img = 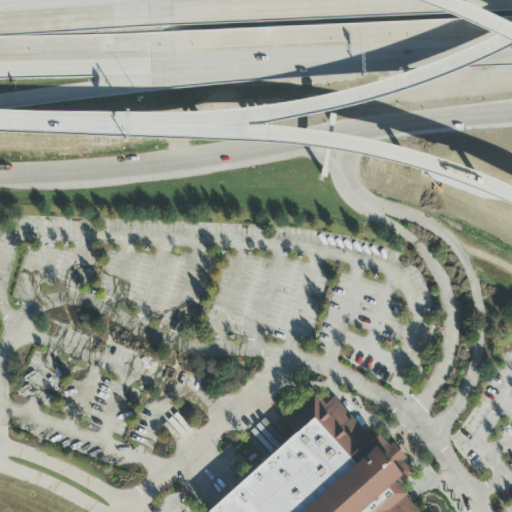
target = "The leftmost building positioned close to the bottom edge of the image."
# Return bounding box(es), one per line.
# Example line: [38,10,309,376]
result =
[207,392,424,512]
